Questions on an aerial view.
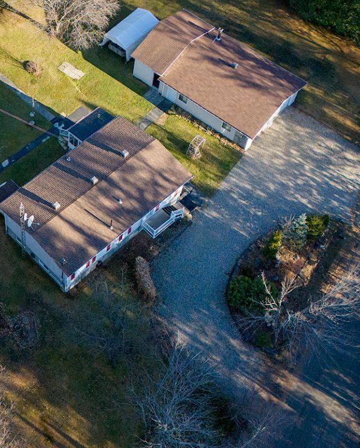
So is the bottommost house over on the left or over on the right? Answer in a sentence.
It is on the left.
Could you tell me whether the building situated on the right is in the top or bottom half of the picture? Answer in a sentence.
Seen from above, the building situated on the right lies in the top half of the view.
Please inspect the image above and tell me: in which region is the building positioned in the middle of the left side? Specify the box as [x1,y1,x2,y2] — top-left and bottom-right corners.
[0,105,191,292]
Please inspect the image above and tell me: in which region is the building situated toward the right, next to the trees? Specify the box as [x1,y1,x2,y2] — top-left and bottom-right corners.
[130,7,305,151]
